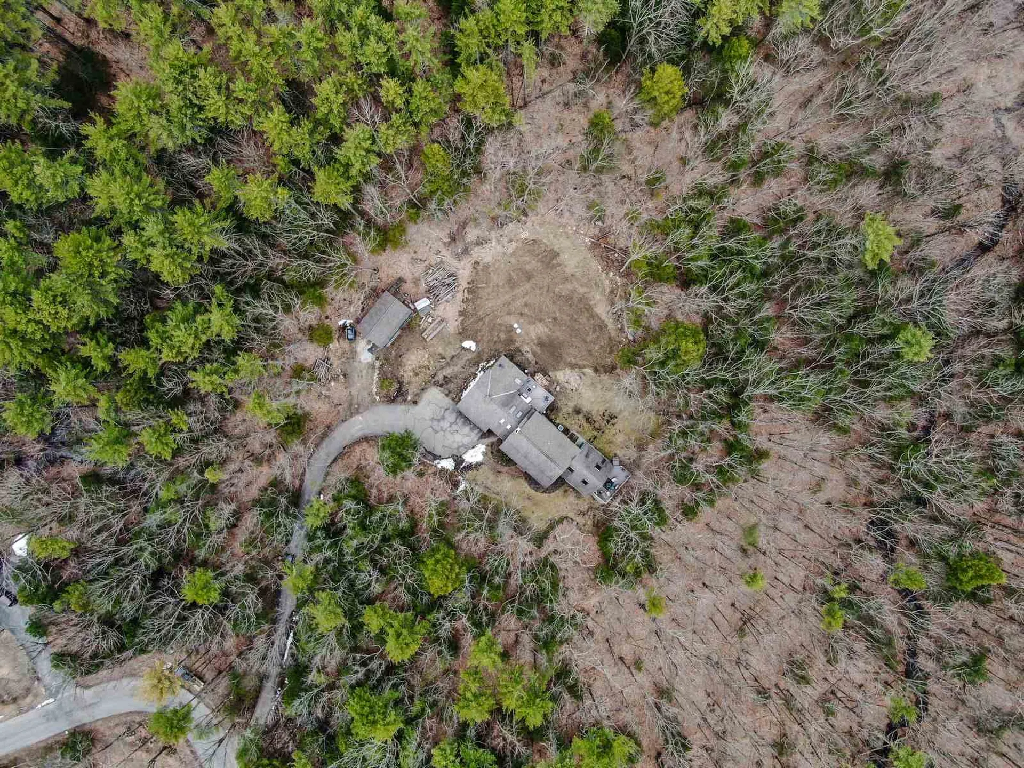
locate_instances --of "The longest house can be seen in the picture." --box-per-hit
[457,355,629,502]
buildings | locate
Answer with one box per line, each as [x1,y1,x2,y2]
[413,298,431,316]
[457,355,629,502]
[358,291,413,347]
